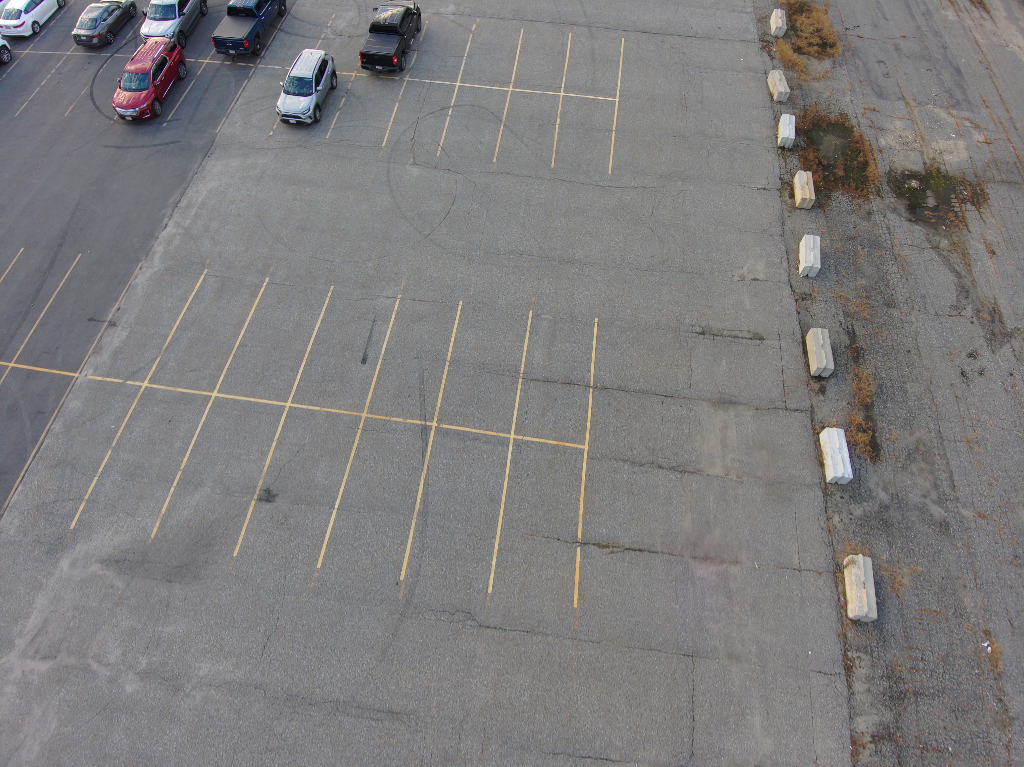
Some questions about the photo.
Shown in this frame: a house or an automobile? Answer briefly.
automobile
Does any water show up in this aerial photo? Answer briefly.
No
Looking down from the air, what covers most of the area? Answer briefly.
paved ground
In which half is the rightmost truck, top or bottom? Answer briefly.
top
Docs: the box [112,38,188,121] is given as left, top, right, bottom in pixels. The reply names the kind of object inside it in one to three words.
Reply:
car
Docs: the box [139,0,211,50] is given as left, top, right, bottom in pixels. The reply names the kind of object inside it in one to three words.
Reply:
car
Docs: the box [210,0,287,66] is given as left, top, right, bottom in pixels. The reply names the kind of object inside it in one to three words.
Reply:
truck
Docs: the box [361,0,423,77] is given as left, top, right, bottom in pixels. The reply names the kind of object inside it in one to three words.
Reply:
truck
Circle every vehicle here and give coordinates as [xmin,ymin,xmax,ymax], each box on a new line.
[112,38,188,121]
[139,0,211,50]
[0,37,12,64]
[0,0,64,39]
[70,0,136,49]
[361,0,423,77]
[210,0,287,66]
[276,48,336,127]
